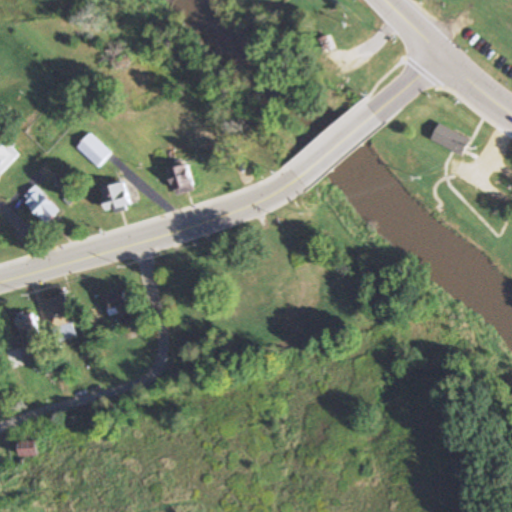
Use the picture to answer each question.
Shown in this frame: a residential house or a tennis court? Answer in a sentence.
It is a residential house that can be seen here.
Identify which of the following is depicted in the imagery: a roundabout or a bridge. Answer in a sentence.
This aerial view contains a bridge.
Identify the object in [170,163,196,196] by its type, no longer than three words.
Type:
house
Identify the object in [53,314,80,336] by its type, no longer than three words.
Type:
house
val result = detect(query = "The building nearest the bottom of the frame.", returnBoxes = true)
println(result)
[16,439,39,454]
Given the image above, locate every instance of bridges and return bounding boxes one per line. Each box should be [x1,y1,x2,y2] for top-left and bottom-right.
[284,98,384,195]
